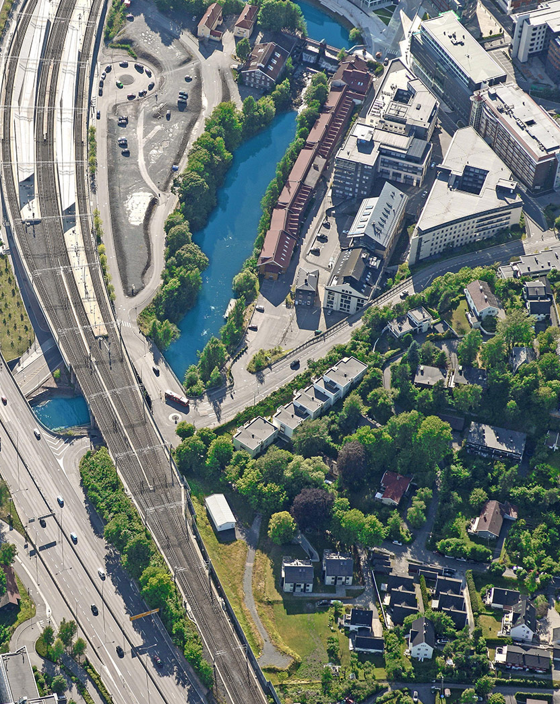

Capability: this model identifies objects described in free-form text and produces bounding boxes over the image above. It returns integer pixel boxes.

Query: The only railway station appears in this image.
[14,0,108,339]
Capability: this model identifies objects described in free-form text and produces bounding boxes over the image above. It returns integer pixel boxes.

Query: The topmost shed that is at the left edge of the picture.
[0,567,19,613]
